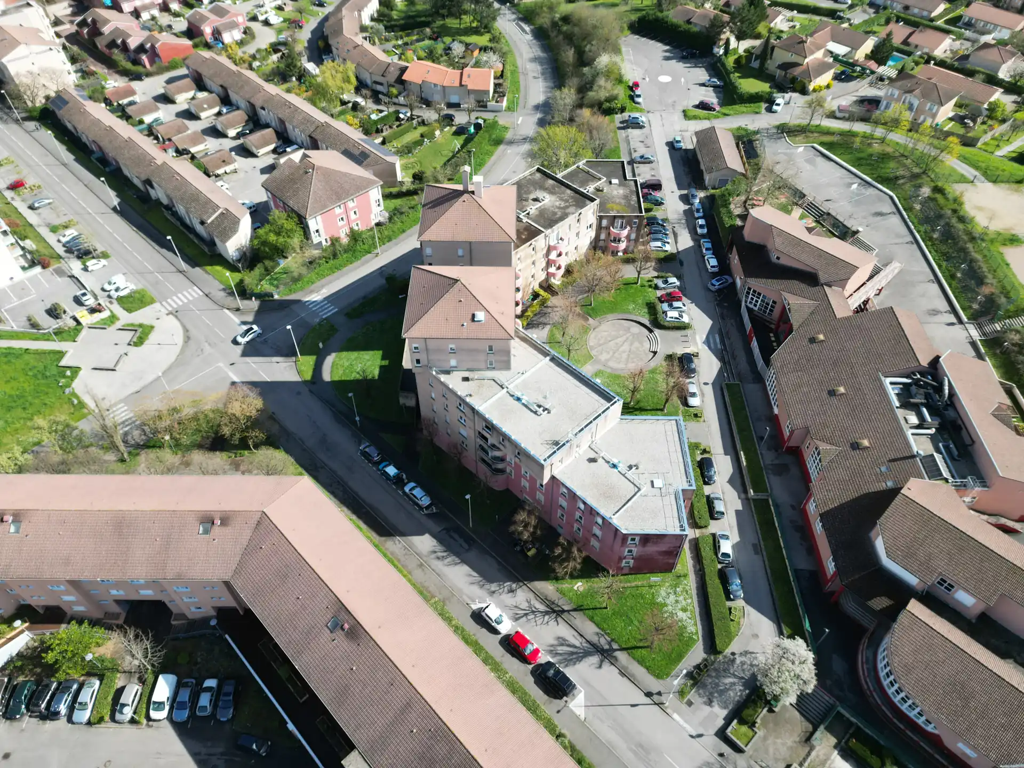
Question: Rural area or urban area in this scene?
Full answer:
It looks urban.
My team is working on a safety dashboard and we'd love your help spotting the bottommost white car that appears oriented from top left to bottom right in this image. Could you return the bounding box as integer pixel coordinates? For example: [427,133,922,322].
[477,599,514,638]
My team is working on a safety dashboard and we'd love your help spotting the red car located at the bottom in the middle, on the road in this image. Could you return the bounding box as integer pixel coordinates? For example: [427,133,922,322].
[508,628,542,665]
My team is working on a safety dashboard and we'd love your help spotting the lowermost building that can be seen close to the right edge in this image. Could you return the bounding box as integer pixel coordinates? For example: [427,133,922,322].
[870,599,1024,768]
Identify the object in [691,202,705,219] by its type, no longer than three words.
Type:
car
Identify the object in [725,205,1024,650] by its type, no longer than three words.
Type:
building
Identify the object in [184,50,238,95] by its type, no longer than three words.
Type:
house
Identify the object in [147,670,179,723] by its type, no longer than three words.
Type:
van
